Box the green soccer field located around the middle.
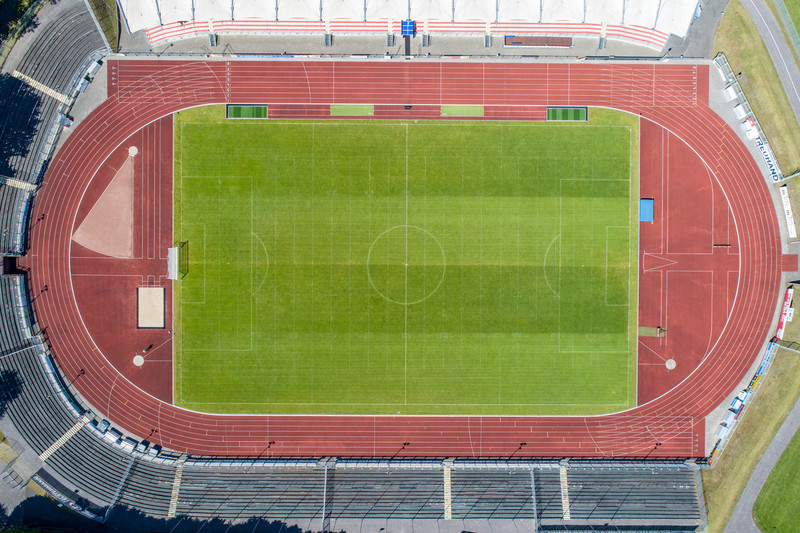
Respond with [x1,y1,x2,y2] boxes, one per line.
[173,103,641,416]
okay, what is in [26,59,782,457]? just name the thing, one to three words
running track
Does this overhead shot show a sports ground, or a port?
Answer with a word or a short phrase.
sports ground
